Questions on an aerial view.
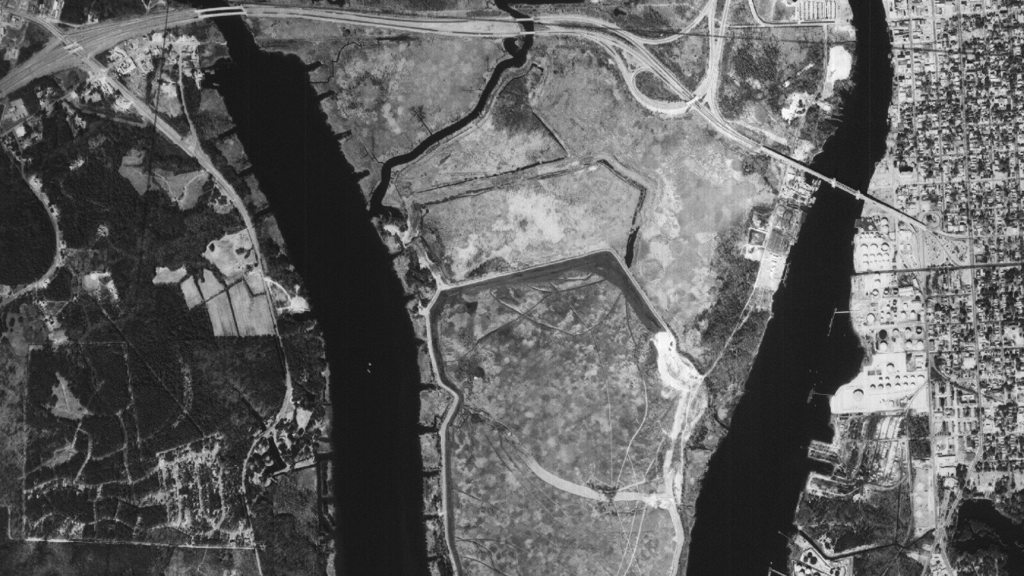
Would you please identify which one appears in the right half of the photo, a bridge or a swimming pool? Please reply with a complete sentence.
You can see a bridge in the right half of the photo.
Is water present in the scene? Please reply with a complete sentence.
Yes, there's water in this view.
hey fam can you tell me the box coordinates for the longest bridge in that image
[761,145,929,230]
